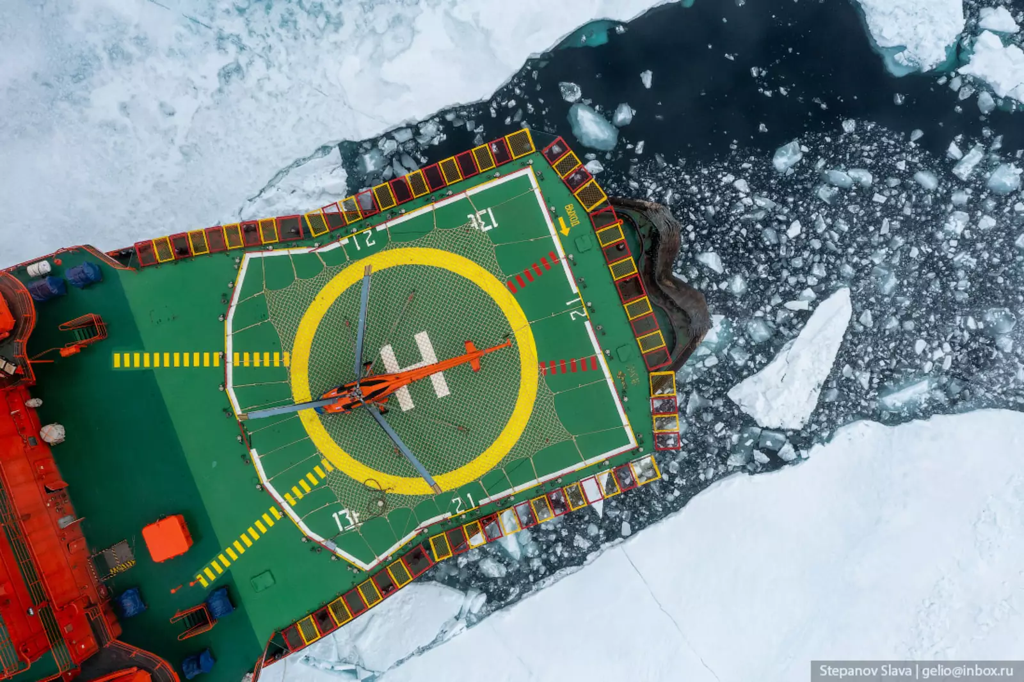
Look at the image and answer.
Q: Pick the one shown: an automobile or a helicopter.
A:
helicopter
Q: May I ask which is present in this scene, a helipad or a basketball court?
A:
helipad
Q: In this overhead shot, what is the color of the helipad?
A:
green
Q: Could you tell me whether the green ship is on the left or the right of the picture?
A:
left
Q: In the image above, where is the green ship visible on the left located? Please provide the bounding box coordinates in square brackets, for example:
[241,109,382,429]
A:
[0,150,714,682]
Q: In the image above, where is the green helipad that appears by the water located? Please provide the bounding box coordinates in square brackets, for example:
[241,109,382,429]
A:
[114,128,680,653]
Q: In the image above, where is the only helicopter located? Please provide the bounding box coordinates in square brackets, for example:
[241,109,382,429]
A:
[239,266,526,493]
